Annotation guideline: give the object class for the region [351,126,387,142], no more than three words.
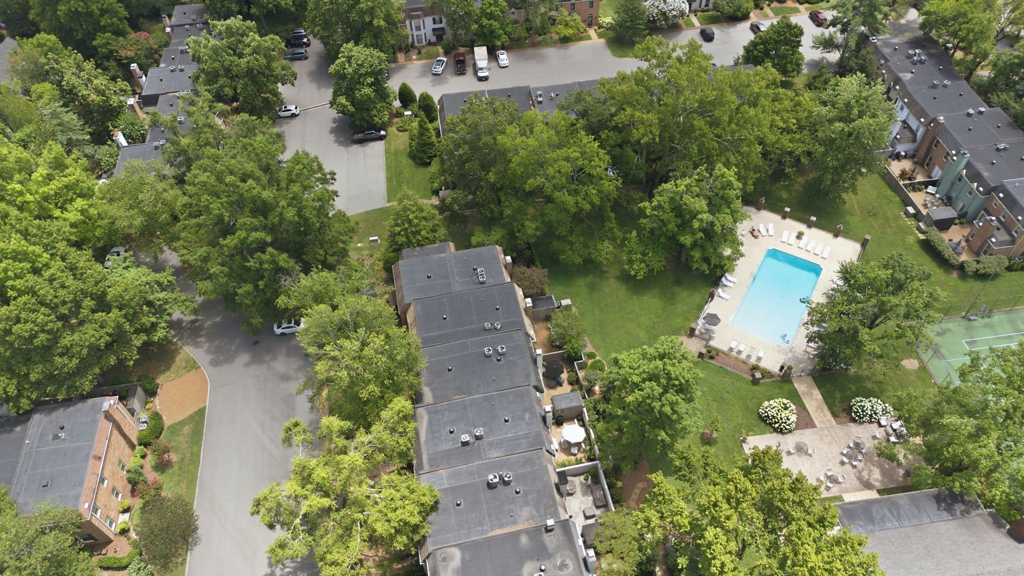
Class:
vehicle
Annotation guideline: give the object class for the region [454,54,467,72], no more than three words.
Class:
vehicle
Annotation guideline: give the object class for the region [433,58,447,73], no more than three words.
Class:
car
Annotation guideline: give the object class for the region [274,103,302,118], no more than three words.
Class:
car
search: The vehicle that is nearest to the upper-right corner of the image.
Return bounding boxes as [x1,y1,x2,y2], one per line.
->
[808,12,829,24]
